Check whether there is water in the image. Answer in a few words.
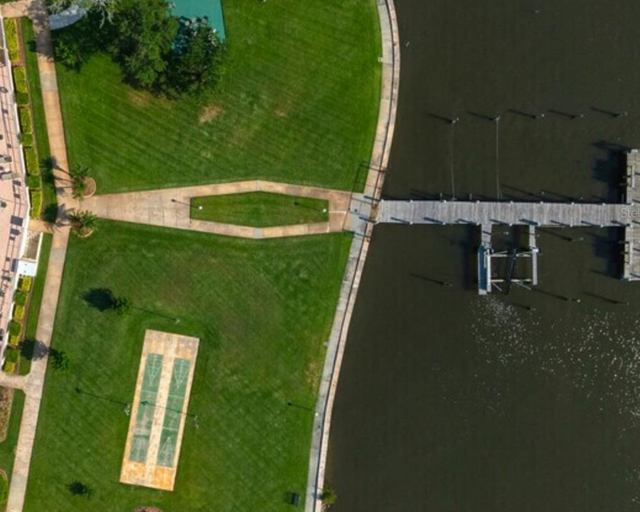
Yes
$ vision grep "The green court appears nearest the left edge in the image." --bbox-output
[130,354,163,462]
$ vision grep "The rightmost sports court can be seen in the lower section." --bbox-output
[157,357,191,467]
